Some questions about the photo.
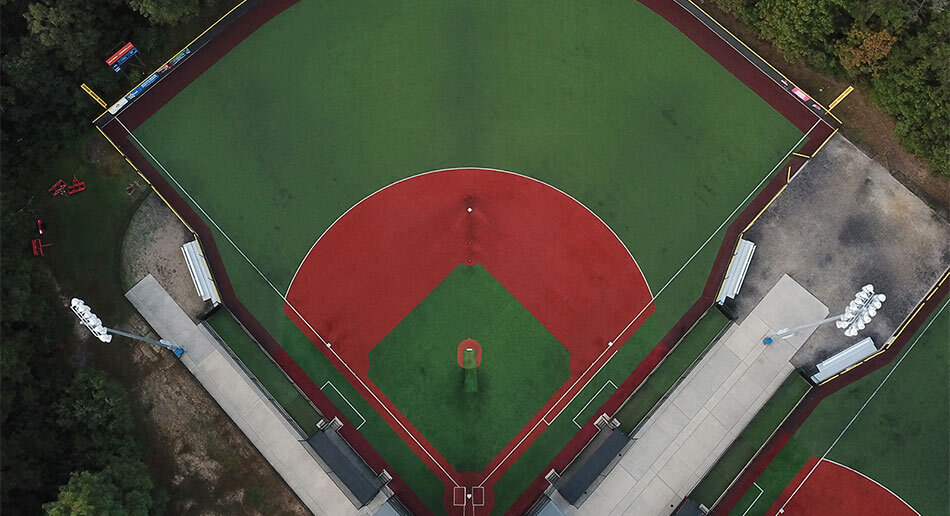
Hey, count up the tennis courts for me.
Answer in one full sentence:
I count no tennis courts.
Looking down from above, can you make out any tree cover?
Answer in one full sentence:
Yes, there's tree cover in this view.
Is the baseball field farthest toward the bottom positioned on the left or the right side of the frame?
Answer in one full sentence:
The baseball field farthest toward the bottom is on the right side of the image.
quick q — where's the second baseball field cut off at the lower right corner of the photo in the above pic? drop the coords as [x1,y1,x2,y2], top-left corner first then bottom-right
[707,273,950,516]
